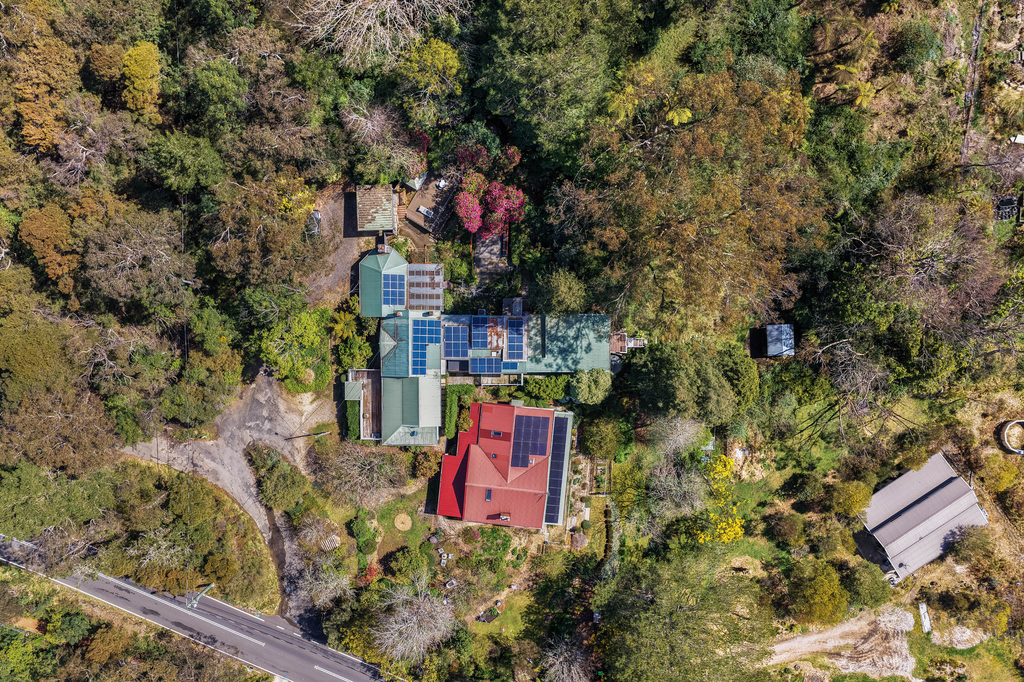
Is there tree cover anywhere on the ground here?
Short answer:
Yes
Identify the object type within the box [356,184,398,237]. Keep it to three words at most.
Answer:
shed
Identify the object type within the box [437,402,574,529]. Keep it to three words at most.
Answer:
house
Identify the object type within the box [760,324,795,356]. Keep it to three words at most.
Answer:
shed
